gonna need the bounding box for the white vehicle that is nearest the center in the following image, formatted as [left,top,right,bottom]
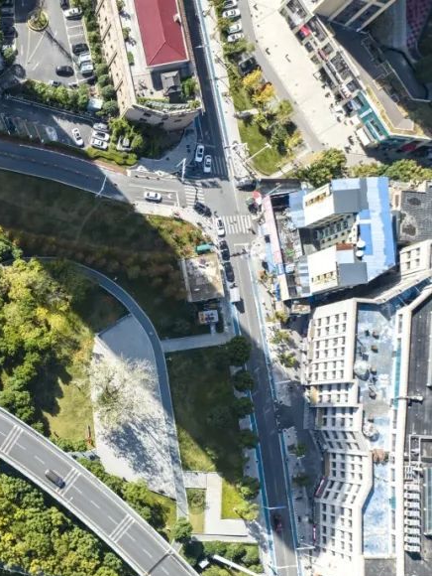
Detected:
[229,283,242,305]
